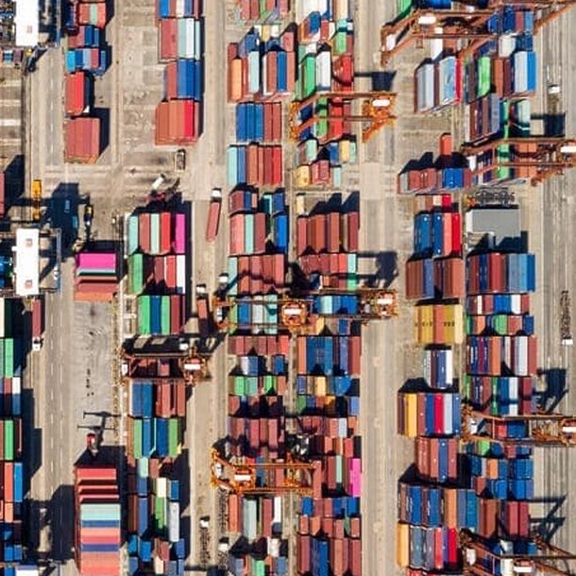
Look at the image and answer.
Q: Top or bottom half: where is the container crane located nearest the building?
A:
top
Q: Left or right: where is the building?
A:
right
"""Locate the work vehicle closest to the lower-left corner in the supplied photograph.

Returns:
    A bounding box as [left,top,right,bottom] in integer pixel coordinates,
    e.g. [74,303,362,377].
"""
[79,425,119,457]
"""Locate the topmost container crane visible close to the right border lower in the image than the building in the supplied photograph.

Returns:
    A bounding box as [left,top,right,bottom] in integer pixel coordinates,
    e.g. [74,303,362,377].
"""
[462,405,576,449]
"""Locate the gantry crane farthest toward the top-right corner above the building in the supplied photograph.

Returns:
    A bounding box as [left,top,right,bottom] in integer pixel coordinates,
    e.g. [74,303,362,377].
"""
[462,0,576,32]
